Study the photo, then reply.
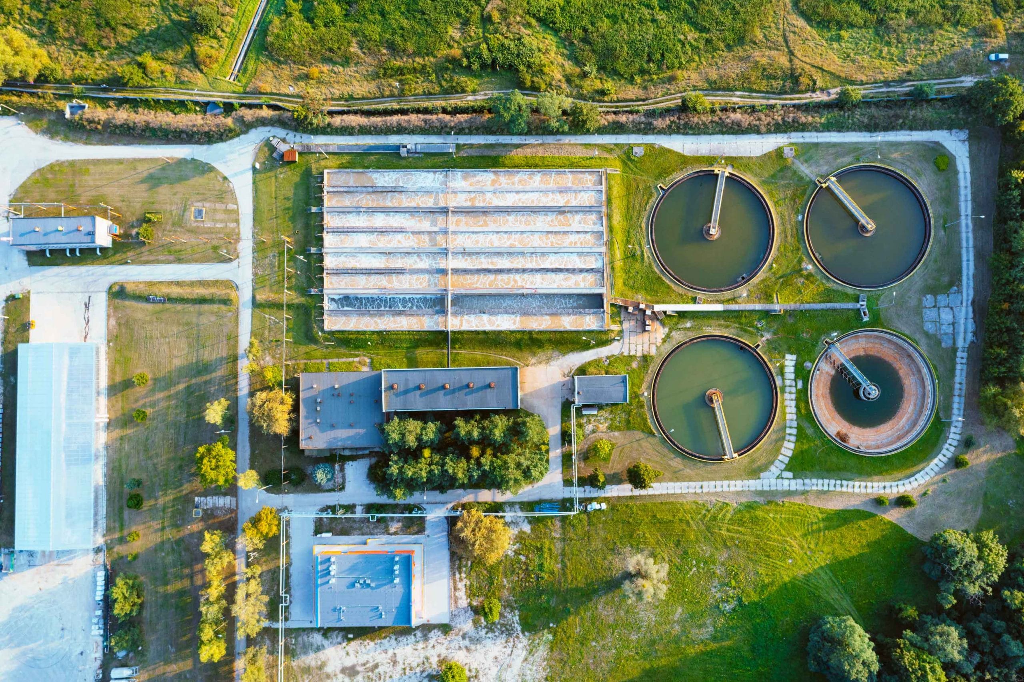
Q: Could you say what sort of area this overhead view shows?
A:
industrial area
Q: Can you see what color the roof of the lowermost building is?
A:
blue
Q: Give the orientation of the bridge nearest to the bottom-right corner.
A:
at an angle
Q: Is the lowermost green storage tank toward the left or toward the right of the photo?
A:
right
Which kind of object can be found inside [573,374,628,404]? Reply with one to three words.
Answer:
building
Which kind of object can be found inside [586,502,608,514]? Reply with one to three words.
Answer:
vehicle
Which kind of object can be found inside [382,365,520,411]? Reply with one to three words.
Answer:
building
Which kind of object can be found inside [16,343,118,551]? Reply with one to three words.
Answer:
shed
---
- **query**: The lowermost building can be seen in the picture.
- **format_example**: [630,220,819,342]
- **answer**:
[316,549,418,629]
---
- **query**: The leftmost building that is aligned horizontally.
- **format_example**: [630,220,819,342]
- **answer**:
[0,216,113,257]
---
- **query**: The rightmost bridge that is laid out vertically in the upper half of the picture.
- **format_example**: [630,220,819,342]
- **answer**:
[709,169,729,232]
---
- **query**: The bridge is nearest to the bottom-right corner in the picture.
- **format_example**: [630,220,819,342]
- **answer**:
[827,340,875,395]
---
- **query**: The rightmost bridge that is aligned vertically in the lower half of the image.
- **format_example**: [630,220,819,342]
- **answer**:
[710,394,738,461]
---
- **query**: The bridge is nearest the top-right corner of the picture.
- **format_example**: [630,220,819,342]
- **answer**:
[821,174,873,232]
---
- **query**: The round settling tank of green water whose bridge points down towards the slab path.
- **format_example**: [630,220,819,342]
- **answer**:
[651,334,779,462]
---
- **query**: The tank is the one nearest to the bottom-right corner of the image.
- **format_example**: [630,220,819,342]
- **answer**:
[808,328,937,456]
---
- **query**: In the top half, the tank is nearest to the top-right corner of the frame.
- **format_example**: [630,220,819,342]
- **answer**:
[804,163,932,290]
